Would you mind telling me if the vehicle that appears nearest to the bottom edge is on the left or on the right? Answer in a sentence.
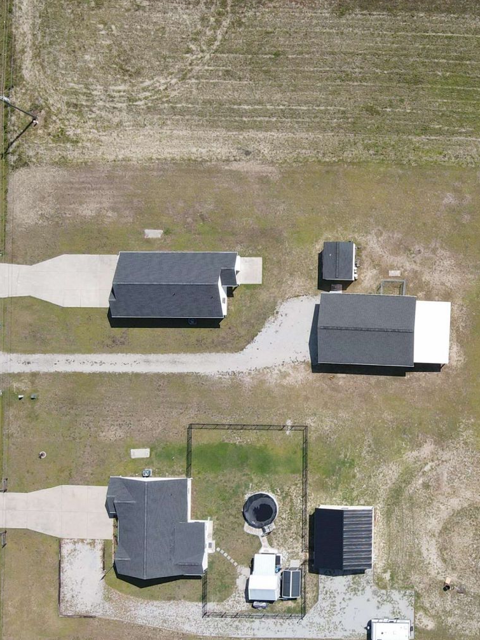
You can find the vehicle that appears nearest to the bottom edge on the right side of the picture.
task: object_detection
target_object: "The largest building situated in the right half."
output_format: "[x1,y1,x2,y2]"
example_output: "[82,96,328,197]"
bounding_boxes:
[317,292,450,367]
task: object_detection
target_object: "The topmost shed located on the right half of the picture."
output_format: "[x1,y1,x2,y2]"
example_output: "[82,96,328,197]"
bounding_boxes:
[322,242,355,280]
